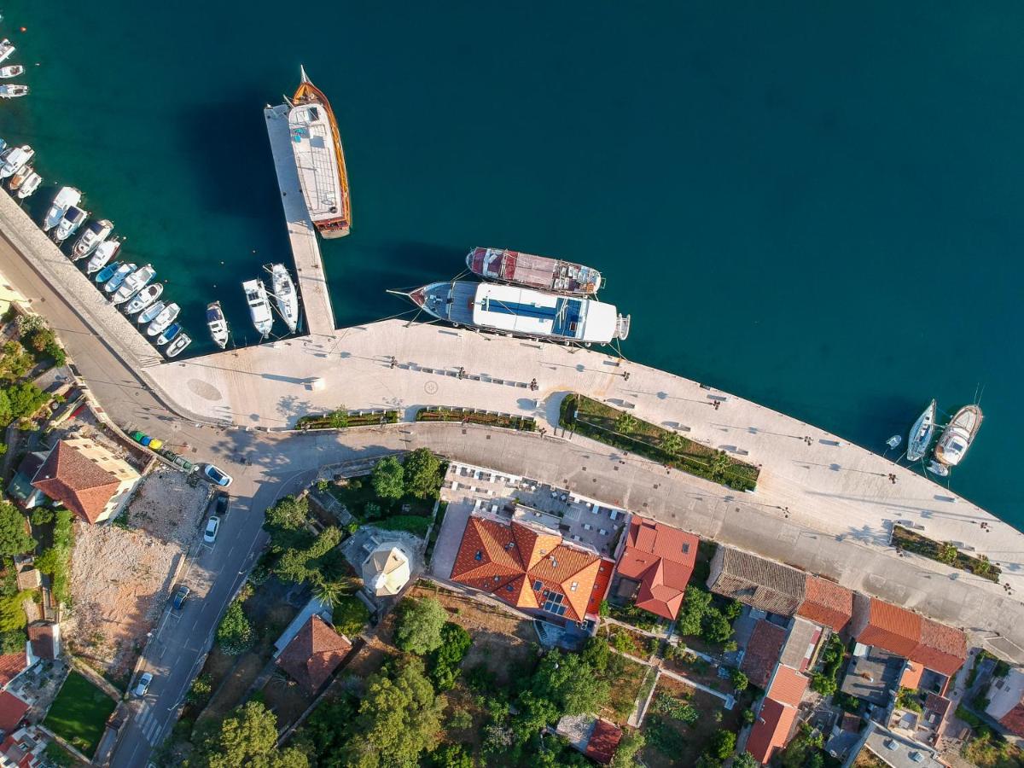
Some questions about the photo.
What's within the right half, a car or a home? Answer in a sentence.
What appears within the right half is a home.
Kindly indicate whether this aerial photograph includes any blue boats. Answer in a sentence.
Yes, there is a blue boat in the image.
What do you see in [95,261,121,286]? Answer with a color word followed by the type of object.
blue boat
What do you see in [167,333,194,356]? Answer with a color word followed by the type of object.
white boat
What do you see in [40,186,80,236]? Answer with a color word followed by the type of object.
white boat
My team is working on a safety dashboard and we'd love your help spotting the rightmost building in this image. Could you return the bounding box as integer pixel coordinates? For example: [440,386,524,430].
[974,664,1024,738]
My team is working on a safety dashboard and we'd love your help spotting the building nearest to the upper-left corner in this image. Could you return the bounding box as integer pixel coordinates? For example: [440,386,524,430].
[0,272,28,329]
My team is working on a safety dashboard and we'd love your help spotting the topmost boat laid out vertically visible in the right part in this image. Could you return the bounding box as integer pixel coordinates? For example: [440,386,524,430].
[619,313,634,341]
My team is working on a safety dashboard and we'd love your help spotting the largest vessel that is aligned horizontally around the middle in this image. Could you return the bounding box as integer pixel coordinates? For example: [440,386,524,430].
[368,281,629,355]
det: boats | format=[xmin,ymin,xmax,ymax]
[204,300,230,351]
[619,313,634,341]
[883,434,902,457]
[273,66,351,264]
[898,397,970,477]
[0,143,37,186]
[157,321,184,345]
[108,263,158,305]
[9,166,34,188]
[241,279,270,342]
[85,239,120,274]
[928,463,953,476]
[0,66,27,80]
[138,300,166,327]
[40,186,80,236]
[933,382,988,486]
[458,247,606,300]
[262,263,299,339]
[0,83,32,98]
[122,281,165,316]
[95,261,121,286]
[0,42,18,64]
[145,302,183,335]
[104,262,138,294]
[167,333,194,356]
[70,220,114,260]
[54,205,89,247]
[17,171,45,203]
